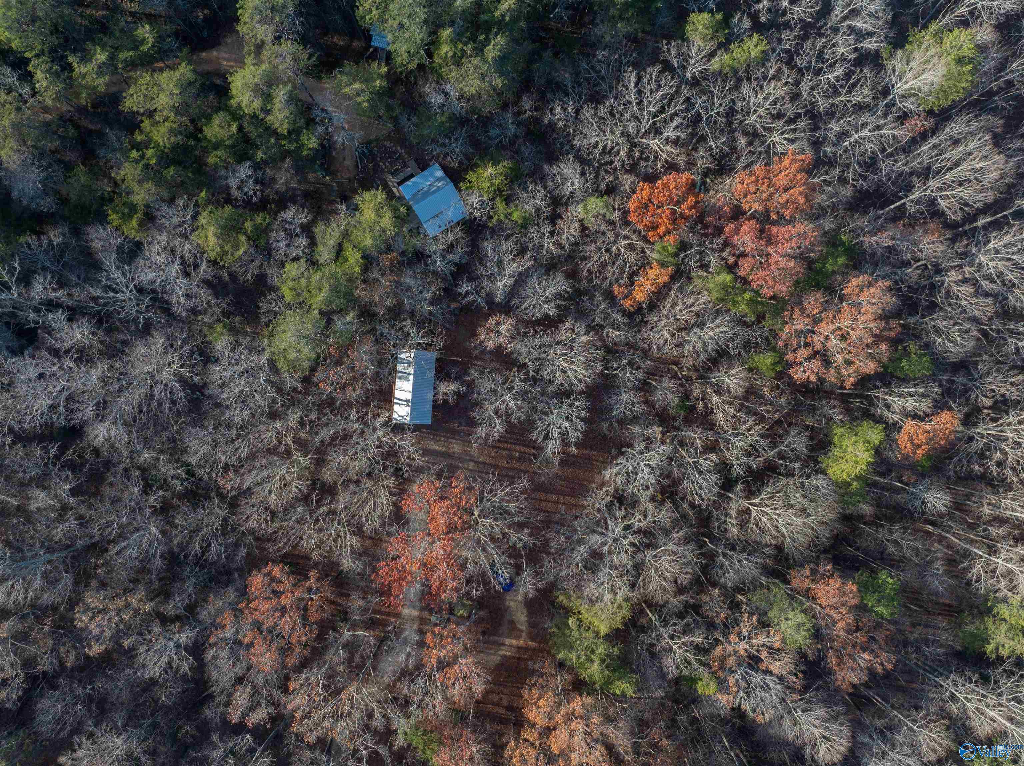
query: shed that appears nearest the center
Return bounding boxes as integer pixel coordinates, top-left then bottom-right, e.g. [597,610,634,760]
[392,349,437,424]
